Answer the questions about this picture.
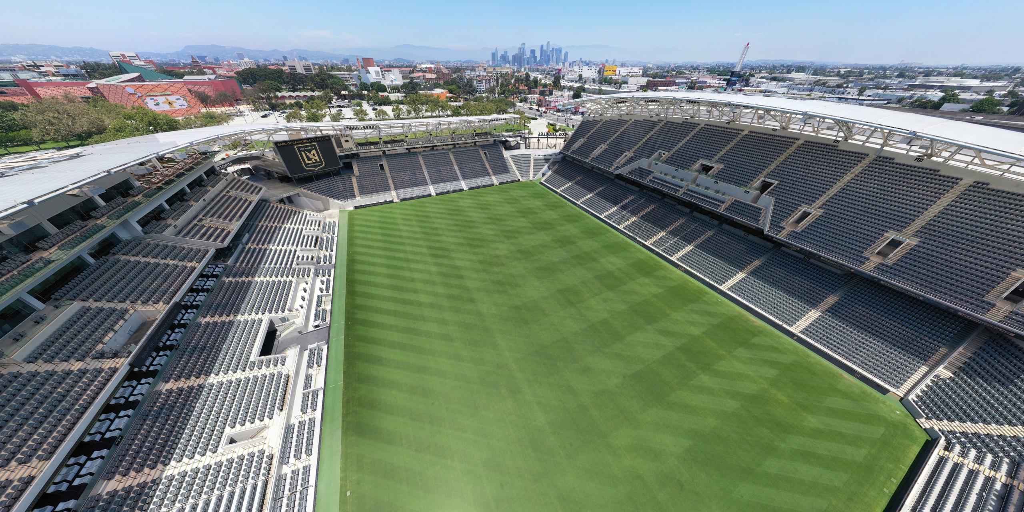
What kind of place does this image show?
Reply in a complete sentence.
What you see here is a sports ground.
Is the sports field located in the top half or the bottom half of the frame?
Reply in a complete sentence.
The sports field is in the bottom half of the image.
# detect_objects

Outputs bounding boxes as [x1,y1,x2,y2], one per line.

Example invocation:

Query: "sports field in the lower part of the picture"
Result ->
[341,181,933,512]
